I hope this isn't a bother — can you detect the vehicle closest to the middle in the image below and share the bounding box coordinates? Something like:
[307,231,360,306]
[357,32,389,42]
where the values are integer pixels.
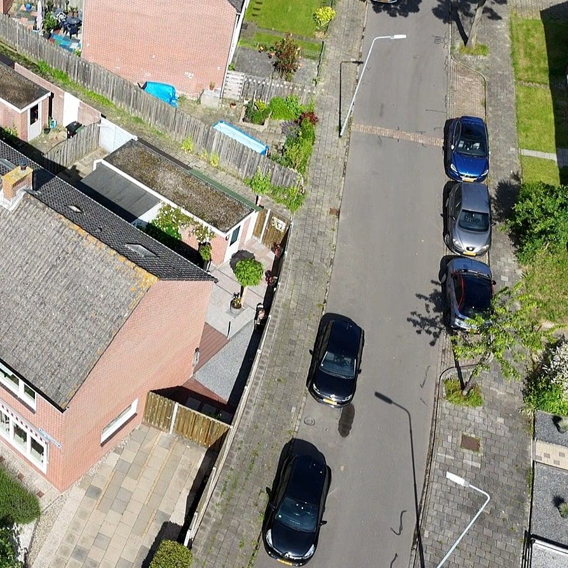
[306,313,368,408]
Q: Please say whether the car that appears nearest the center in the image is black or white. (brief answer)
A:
black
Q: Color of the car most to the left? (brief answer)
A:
black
